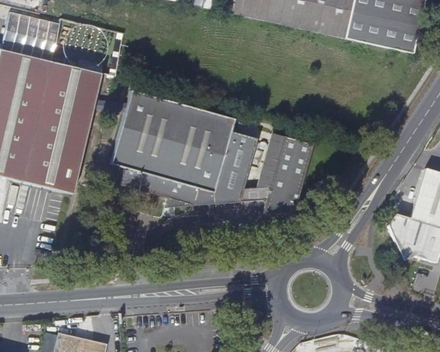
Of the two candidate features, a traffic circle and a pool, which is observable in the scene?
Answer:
traffic circle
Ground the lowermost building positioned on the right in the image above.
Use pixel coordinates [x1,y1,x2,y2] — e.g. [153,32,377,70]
[388,214,440,264]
